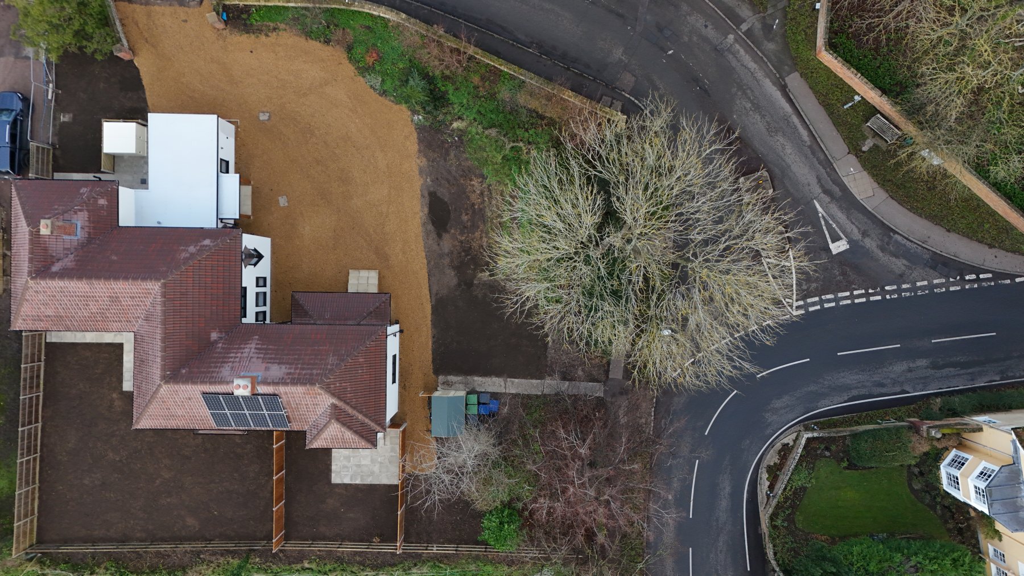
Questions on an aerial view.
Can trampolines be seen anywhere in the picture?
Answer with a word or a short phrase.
No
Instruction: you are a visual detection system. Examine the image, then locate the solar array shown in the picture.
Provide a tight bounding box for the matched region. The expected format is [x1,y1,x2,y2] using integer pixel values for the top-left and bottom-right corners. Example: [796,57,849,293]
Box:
[201,394,289,428]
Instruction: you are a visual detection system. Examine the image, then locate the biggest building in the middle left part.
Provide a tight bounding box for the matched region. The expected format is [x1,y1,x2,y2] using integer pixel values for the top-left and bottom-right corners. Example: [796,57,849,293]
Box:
[8,114,401,450]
